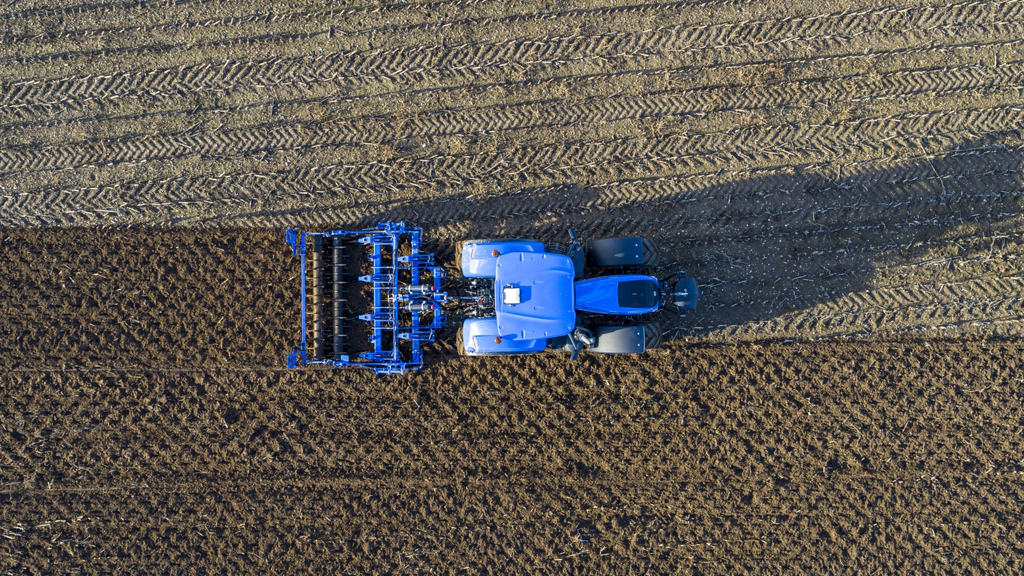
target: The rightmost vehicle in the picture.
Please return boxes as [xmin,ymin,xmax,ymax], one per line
[444,227,686,360]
